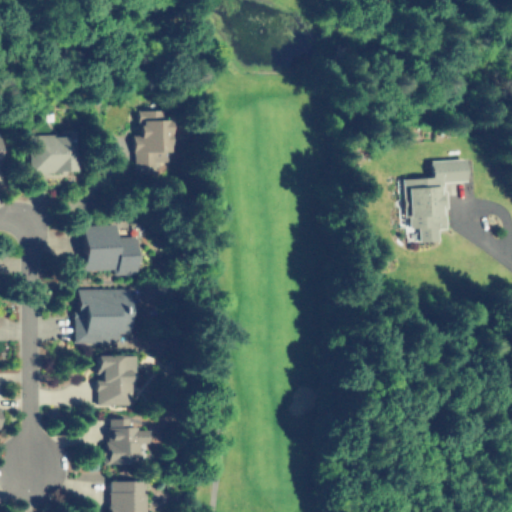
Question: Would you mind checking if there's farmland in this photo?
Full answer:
No, the scene doesn't show any farmland.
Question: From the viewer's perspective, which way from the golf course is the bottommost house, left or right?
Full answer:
The bottommost house appears to the left of the golf course in this view.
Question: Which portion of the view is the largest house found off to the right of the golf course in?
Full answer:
The largest house found off to the right of the golf course is located in the right region of the scene.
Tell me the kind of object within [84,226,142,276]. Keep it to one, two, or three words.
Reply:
house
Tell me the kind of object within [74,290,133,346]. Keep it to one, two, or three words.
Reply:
house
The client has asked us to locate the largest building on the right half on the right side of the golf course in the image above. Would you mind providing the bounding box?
[404,160,471,244]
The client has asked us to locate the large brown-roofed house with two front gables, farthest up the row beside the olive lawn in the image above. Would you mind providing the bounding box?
[134,110,176,168]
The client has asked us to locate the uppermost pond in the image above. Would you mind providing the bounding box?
[224,0,314,68]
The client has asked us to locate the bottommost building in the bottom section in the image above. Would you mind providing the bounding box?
[109,482,148,512]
